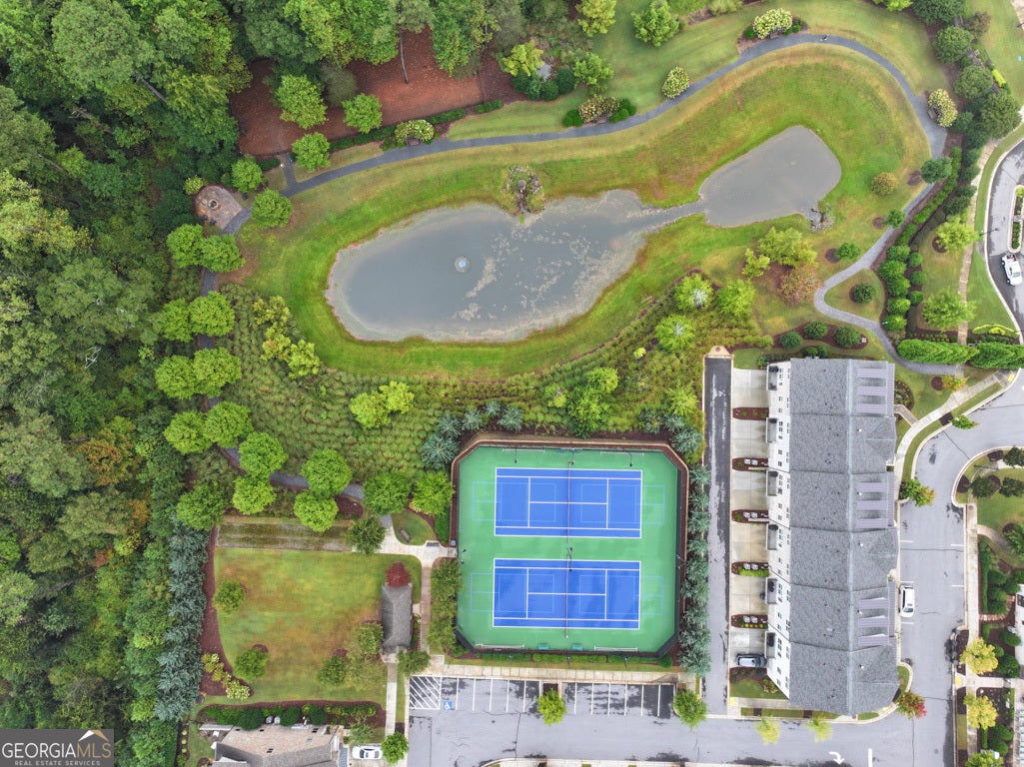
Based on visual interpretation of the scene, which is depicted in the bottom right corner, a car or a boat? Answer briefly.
car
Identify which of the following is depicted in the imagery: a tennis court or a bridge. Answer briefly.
tennis court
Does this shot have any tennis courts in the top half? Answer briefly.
No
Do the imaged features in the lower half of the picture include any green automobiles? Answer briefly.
No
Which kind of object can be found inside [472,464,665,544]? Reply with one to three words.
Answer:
tennis court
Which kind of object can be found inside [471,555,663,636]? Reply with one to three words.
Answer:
tennis court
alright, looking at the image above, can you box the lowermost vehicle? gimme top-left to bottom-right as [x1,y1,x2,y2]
[351,745,381,761]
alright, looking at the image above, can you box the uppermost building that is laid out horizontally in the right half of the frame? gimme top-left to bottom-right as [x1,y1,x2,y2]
[767,358,896,415]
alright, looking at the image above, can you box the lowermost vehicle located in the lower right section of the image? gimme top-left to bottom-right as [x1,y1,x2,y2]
[738,654,768,670]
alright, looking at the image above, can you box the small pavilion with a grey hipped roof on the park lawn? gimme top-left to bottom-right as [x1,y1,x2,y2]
[381,579,414,654]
